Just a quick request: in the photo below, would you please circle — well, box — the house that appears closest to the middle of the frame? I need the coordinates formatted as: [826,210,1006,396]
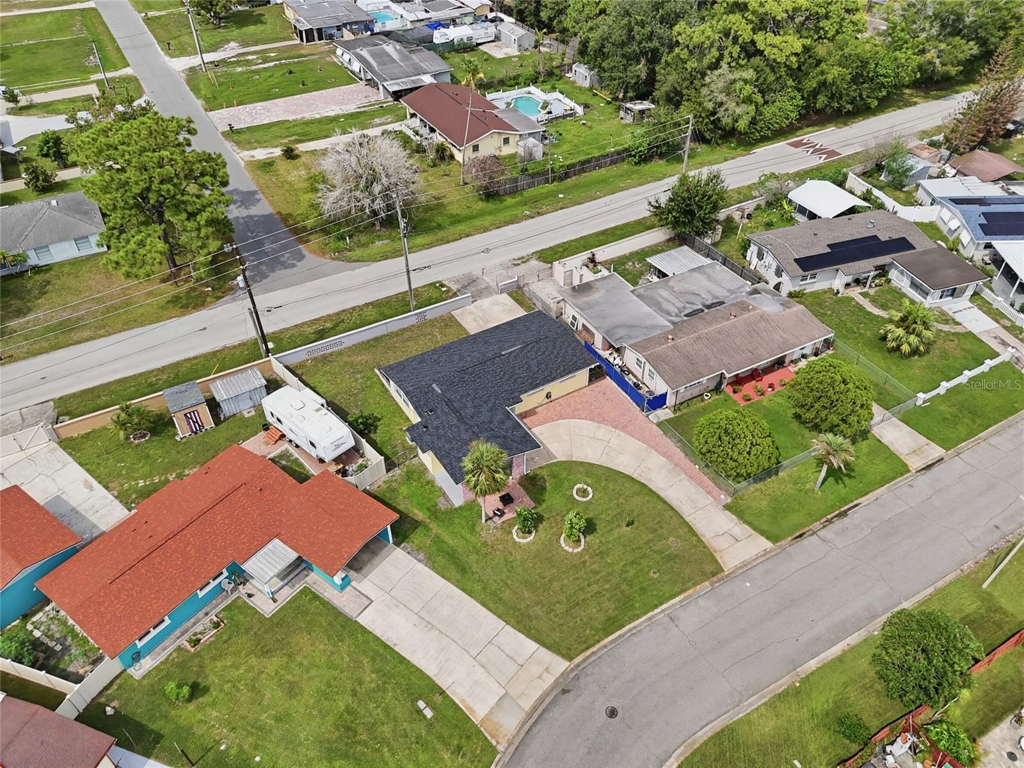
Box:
[379,311,600,502]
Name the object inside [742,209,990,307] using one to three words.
house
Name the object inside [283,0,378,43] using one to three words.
house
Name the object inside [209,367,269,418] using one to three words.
shed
